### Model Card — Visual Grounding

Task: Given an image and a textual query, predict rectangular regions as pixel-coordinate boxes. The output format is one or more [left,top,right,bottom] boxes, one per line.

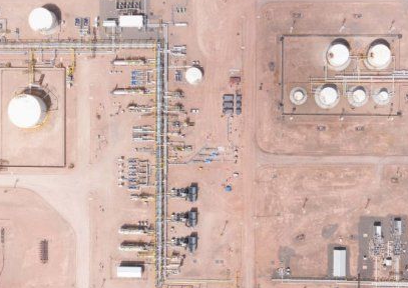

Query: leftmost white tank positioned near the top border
[26,6,59,35]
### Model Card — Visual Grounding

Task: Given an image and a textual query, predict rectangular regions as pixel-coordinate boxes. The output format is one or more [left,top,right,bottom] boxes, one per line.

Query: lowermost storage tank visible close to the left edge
[9,87,54,129]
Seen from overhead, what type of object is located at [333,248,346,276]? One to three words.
shed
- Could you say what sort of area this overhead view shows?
industrial area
